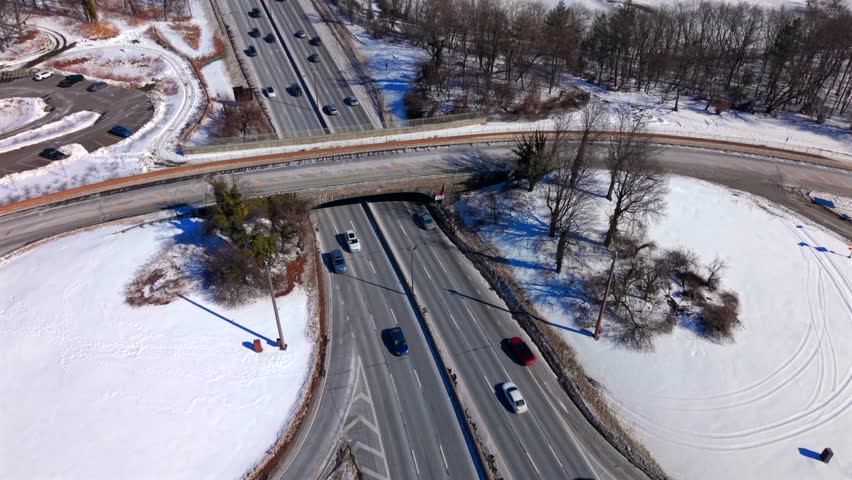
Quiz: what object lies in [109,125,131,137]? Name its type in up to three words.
vehicle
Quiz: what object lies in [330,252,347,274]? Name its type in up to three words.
car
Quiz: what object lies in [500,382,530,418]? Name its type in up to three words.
car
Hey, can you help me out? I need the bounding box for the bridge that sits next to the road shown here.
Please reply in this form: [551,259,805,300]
[181,116,491,213]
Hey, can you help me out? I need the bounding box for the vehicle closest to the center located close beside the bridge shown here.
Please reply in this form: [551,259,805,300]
[418,213,436,231]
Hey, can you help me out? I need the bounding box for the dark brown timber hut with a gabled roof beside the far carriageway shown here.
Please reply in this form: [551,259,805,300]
[230,83,254,104]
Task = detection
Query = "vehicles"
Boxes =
[330,252,347,274]
[500,382,530,418]
[297,32,306,38]
[32,71,55,81]
[38,148,66,160]
[311,55,321,62]
[86,82,107,92]
[267,32,276,42]
[57,75,83,87]
[343,230,360,253]
[418,213,436,231]
[291,82,302,96]
[252,27,260,36]
[326,105,339,116]
[311,37,321,46]
[265,87,276,97]
[386,326,409,359]
[347,97,359,107]
[508,338,536,369]
[109,125,131,137]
